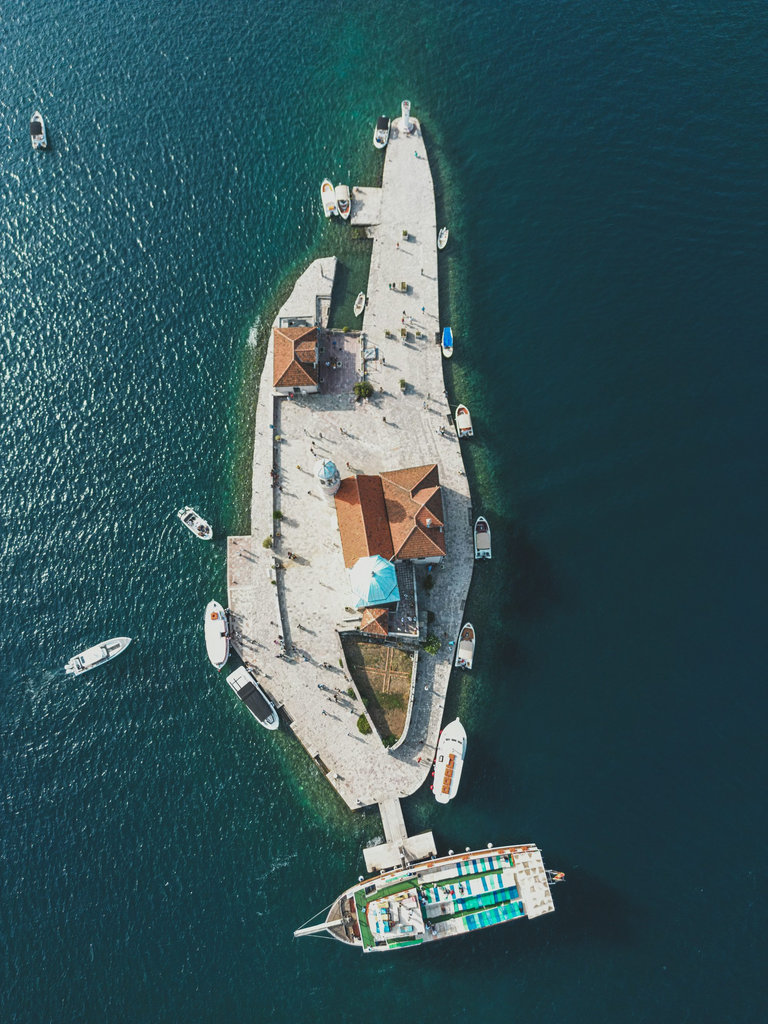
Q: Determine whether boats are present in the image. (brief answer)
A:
Yes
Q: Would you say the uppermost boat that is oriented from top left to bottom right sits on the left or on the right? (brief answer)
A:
left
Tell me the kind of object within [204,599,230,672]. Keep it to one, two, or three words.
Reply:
boat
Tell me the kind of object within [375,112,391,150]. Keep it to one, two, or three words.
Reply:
boat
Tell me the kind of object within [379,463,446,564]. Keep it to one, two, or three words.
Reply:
building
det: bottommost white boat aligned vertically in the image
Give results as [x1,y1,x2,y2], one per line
[432,716,466,803]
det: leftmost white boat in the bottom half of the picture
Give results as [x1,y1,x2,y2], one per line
[66,639,132,676]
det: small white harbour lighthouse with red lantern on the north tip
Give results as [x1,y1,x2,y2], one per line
[397,100,414,140]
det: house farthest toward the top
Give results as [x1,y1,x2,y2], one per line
[273,326,317,393]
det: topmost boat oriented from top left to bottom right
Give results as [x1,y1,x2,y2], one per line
[176,508,213,539]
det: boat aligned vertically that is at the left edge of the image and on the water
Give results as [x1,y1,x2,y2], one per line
[29,108,47,153]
